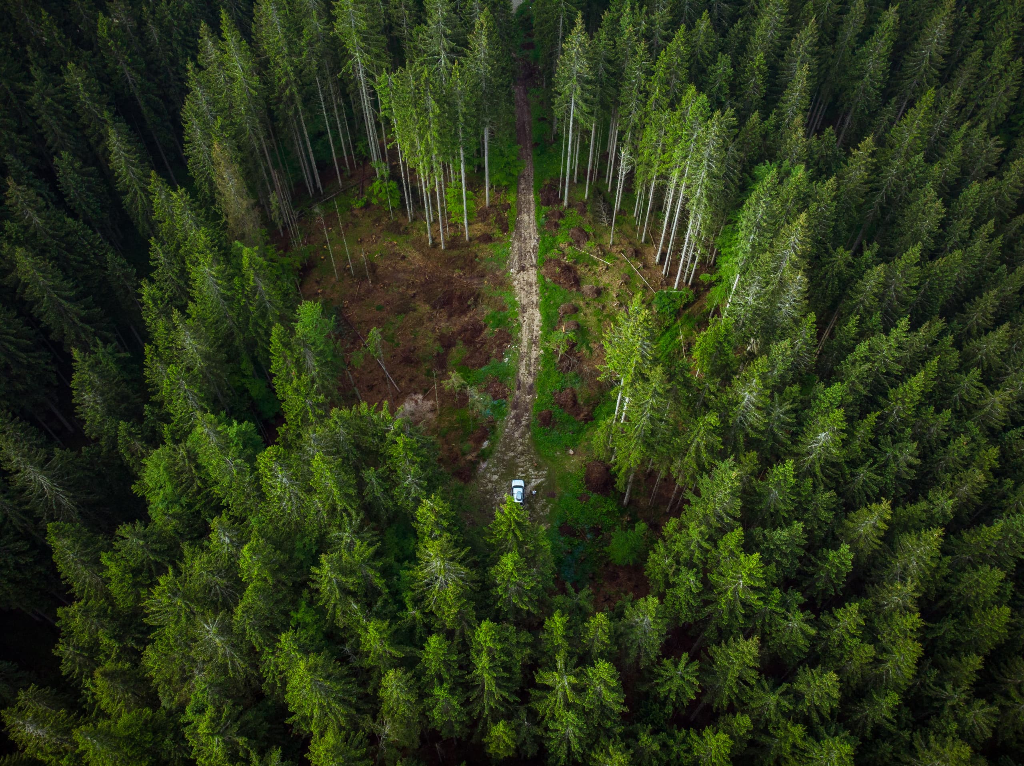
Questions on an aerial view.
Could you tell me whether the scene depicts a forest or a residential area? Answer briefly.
forest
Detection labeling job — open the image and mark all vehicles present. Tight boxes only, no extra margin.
[511,479,526,506]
